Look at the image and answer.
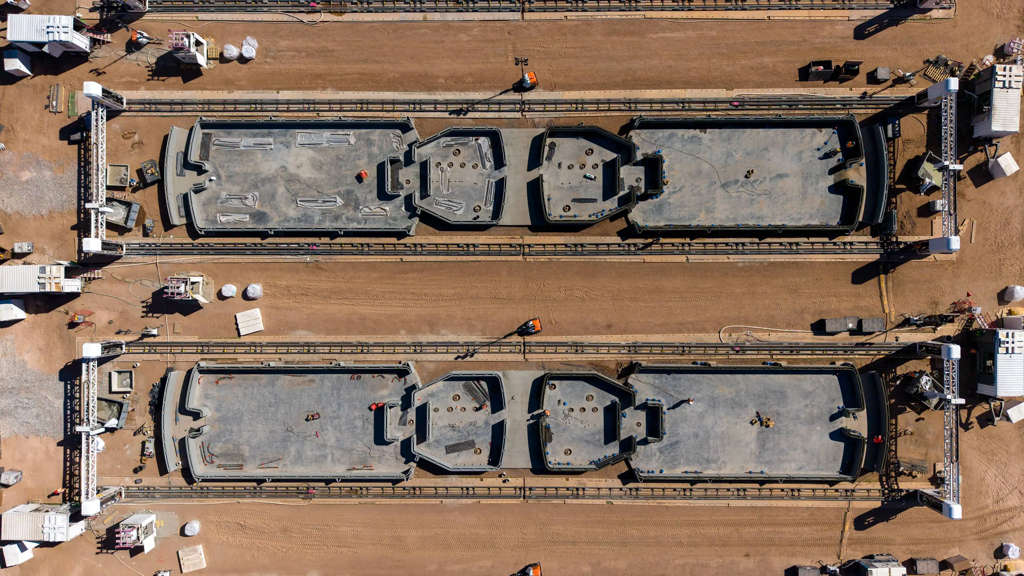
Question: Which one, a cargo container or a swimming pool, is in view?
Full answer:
Looking from above, you can make out a cargo container.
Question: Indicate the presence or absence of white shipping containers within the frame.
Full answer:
Yes, the frame does contain a white shipping container.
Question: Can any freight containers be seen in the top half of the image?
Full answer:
Yes, a freight container appears in the top half of the image.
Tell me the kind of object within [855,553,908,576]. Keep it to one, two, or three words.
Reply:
truck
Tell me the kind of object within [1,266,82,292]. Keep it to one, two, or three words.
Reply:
shipping container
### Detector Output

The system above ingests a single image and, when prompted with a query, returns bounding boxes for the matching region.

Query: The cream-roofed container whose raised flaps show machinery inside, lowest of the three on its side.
[3,505,85,541]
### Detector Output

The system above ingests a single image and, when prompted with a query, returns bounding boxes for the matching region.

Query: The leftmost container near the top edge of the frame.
[8,14,89,59]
